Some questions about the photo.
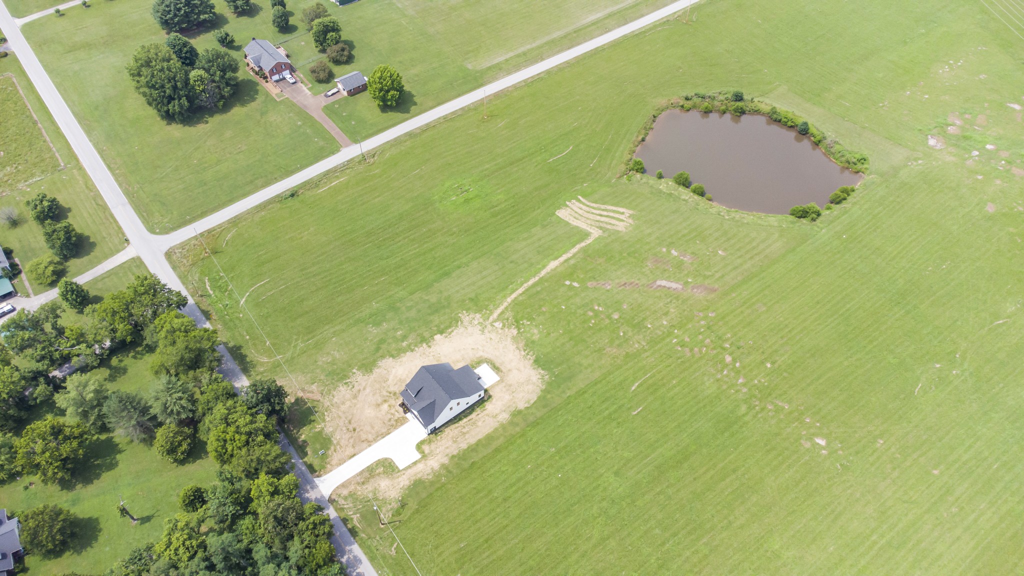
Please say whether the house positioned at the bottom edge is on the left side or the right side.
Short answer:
left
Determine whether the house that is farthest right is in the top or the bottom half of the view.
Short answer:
bottom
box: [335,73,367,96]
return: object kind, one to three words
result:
building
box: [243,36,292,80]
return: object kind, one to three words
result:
house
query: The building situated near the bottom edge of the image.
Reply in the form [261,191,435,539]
[0,497,32,572]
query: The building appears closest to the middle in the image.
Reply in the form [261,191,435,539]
[399,363,485,434]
